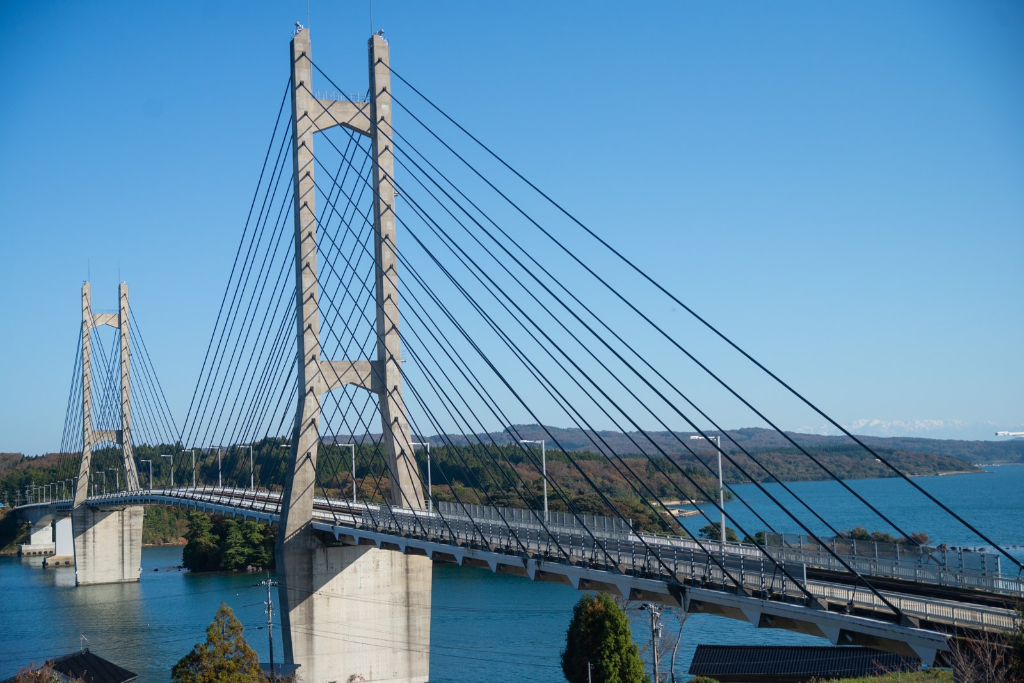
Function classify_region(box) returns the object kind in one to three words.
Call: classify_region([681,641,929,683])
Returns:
house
